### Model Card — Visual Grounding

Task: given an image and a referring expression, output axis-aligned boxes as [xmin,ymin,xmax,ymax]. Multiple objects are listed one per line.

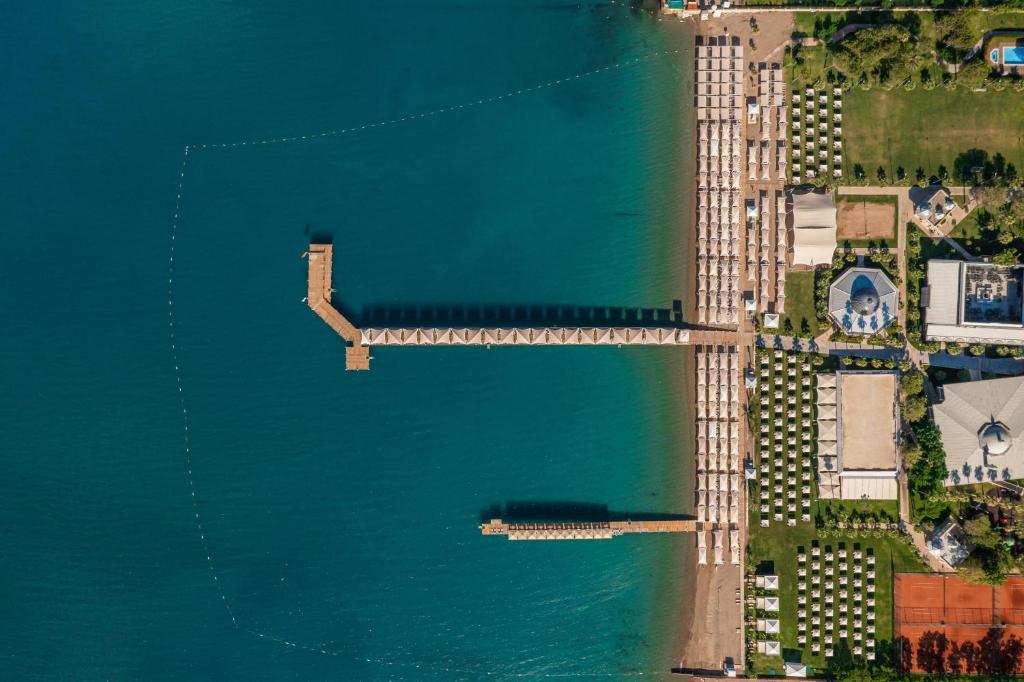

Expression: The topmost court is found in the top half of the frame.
[838,200,895,239]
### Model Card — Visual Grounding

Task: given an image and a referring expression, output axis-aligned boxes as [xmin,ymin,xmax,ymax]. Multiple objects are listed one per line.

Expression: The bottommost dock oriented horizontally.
[478,519,744,539]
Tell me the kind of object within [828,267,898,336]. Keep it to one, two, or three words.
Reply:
building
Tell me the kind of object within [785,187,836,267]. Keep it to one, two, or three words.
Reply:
tent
